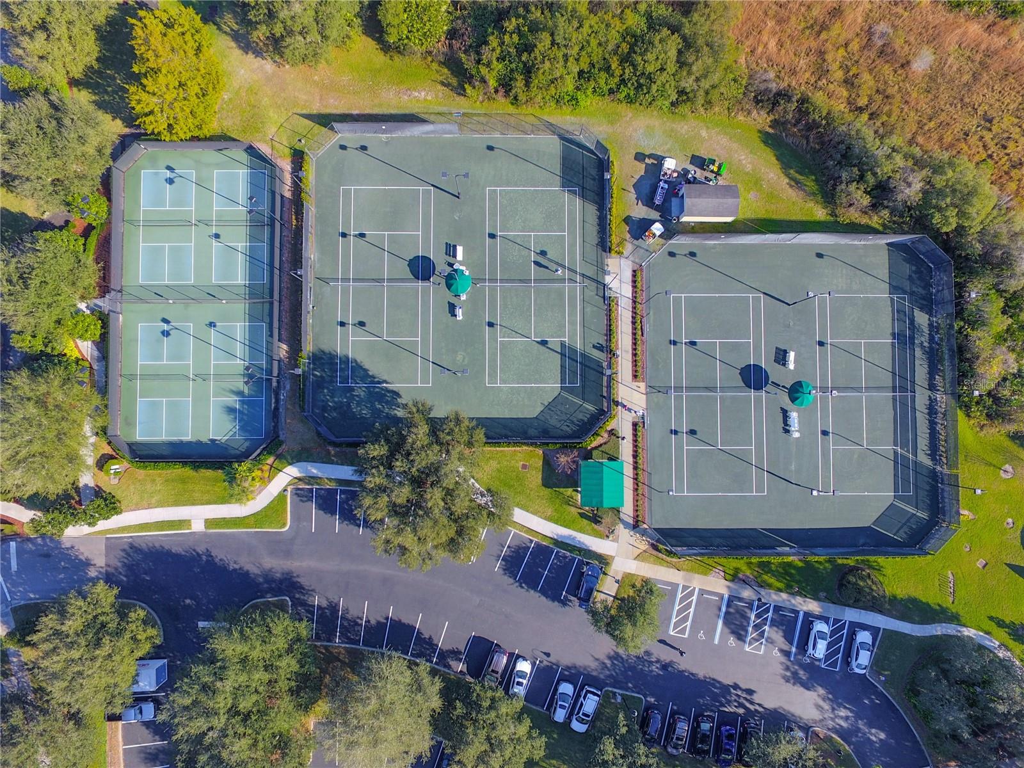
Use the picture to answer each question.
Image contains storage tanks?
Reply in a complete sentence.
No, no storage tank is visible in the view.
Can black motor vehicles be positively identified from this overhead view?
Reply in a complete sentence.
Yes, looking at the shot, I can spot a black motor vehicle.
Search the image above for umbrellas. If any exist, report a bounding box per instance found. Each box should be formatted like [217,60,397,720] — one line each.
[786,380,813,407]
[445,269,472,295]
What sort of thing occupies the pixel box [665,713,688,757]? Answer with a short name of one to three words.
car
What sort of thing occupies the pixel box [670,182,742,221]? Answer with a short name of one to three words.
shed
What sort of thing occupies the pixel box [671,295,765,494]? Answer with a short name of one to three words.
tennis court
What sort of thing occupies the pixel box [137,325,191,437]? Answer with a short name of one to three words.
sports court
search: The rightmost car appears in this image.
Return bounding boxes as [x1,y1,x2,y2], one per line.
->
[847,630,872,674]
